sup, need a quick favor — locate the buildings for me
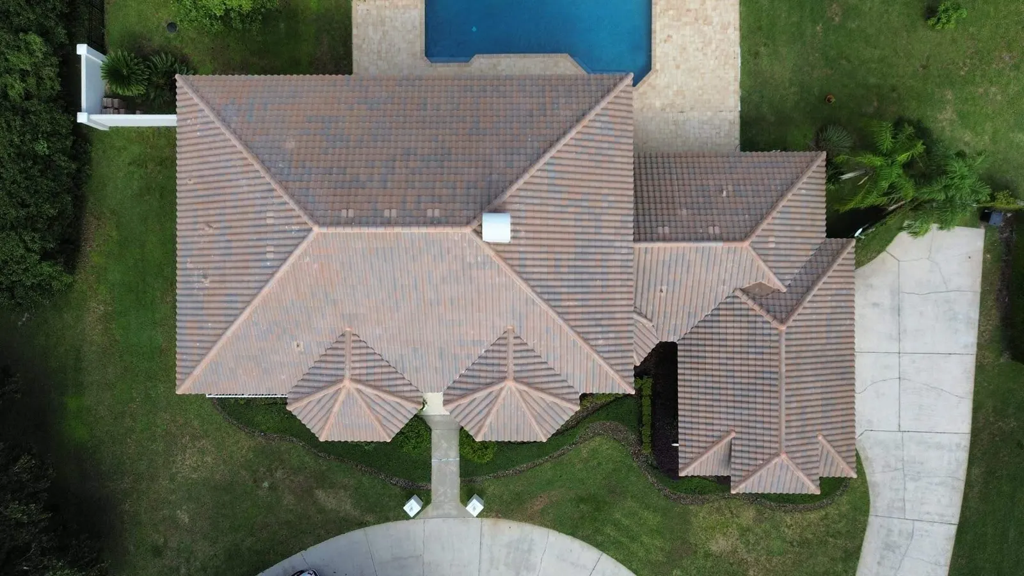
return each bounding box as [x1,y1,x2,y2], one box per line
[173,73,858,495]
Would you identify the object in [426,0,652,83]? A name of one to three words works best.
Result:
swimming pool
